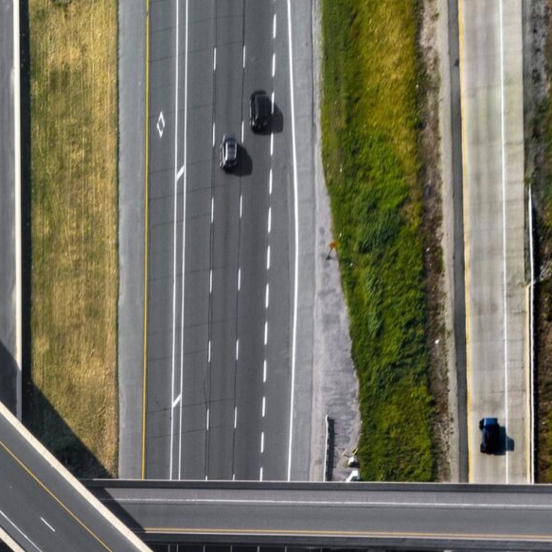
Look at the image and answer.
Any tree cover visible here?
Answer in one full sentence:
No, no tree cover is visible.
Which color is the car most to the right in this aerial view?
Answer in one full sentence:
The car most to the right is black.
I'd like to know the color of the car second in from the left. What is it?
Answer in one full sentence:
The car second in from the left looks black in the image.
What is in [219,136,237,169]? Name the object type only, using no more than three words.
car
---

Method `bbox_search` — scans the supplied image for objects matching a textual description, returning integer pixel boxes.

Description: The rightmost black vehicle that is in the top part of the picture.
[250,94,270,131]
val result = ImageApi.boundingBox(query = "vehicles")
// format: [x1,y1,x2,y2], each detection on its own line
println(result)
[250,94,270,131]
[478,419,499,452]
[219,136,237,169]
